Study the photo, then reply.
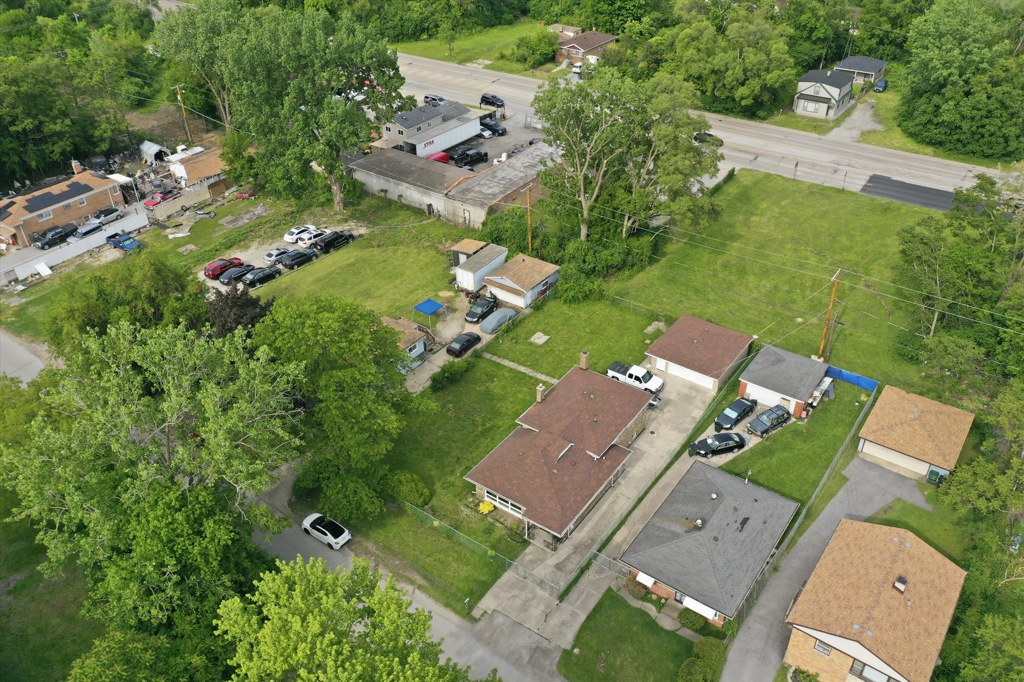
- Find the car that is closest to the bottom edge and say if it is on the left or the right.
left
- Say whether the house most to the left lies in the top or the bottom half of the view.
top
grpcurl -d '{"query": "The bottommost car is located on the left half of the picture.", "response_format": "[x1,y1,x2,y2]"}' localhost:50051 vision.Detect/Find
[300,513,351,548]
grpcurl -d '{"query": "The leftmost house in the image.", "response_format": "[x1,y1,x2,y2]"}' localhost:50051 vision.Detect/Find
[0,158,123,250]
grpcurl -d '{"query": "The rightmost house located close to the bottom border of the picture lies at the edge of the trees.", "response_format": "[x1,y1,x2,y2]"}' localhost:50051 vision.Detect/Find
[782,518,969,682]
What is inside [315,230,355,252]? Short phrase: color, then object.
black car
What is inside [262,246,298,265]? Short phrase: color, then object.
gray car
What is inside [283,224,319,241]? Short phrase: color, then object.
white car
